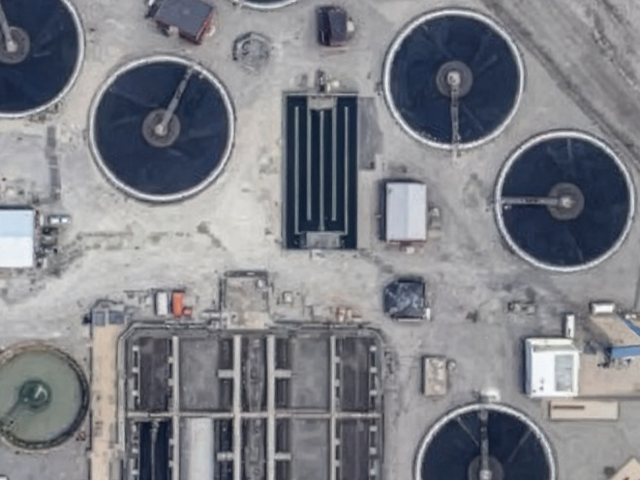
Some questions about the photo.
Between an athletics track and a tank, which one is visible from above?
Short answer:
tank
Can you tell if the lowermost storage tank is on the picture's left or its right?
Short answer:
right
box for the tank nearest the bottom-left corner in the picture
[0,342,92,452]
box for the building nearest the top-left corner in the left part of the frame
[149,0,217,40]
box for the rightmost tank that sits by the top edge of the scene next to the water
[381,7,527,155]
